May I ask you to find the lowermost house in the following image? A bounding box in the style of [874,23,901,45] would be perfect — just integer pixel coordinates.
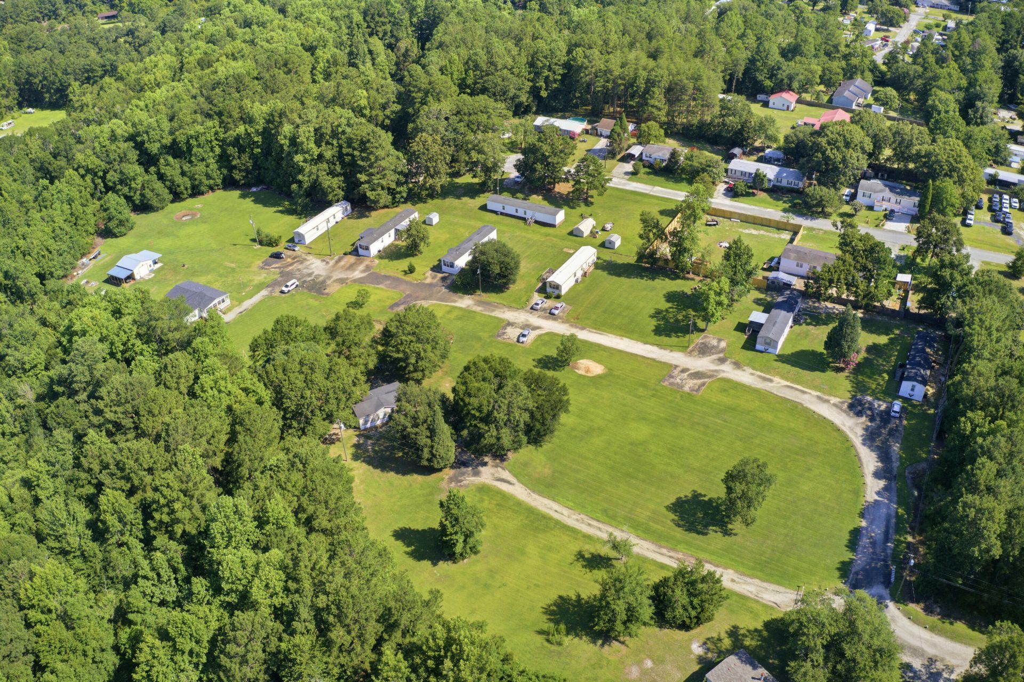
[704,650,775,682]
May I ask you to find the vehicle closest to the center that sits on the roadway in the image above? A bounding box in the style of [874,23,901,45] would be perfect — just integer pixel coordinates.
[519,329,532,343]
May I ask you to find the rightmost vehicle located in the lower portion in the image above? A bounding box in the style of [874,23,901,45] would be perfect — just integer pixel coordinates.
[890,401,903,418]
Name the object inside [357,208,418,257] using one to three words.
house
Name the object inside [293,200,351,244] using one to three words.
house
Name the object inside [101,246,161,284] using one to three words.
building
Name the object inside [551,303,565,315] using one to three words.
vehicle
